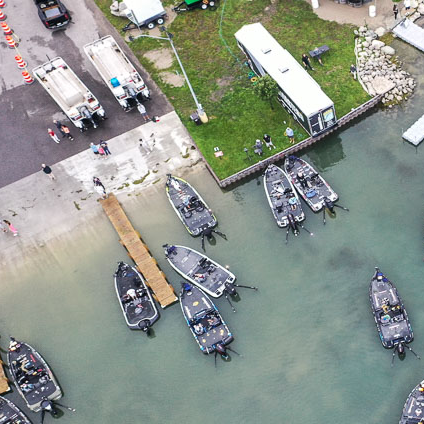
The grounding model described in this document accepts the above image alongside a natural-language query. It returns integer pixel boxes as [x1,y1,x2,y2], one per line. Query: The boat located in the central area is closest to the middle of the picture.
[162,171,230,251]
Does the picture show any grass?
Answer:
Yes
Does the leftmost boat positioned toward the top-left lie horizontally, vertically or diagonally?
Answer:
diagonally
